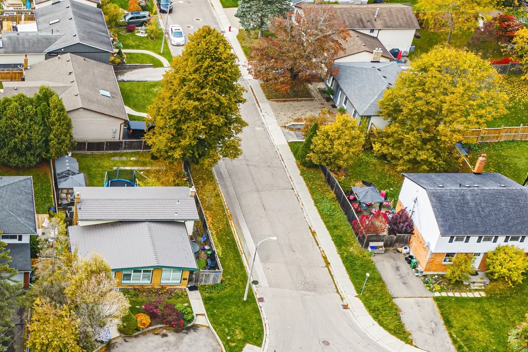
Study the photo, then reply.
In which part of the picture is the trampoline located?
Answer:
left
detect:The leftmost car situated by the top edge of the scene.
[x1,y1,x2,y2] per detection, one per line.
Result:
[121,9,155,24]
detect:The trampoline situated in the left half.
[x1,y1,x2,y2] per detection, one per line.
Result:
[105,164,141,187]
